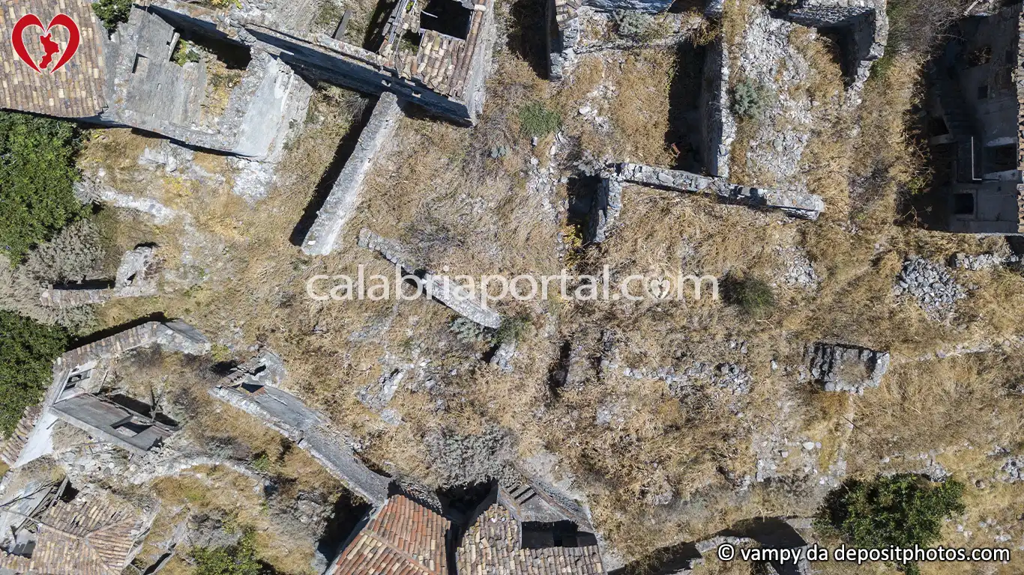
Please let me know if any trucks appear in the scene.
No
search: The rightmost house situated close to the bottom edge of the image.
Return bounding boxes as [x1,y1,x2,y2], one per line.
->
[453,485,605,575]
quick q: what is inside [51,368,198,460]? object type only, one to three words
house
